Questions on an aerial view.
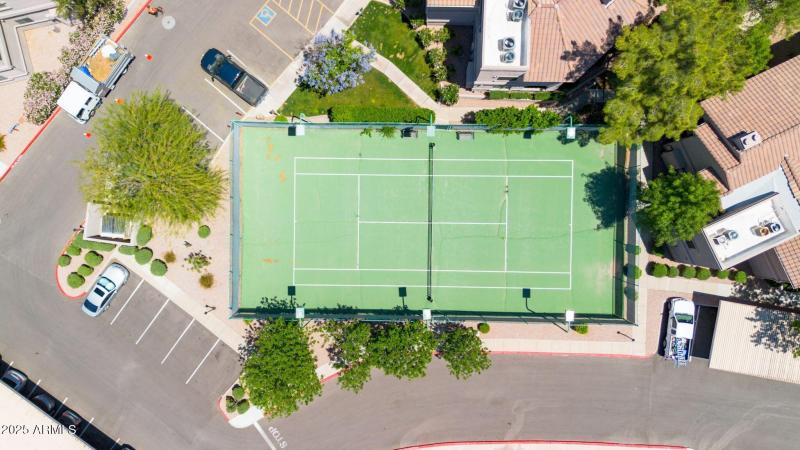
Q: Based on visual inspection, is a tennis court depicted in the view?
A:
Yes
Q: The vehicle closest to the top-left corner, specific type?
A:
truck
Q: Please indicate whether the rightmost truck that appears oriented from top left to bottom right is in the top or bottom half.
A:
top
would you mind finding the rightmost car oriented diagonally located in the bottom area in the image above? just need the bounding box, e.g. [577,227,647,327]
[84,262,131,316]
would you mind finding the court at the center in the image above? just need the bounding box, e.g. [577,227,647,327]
[241,128,624,317]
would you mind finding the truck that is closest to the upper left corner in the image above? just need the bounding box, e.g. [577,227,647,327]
[50,36,131,124]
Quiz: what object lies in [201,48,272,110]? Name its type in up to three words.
truck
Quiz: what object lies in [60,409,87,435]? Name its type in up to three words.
car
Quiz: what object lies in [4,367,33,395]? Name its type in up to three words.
car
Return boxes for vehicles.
[662,296,697,362]
[4,367,33,395]
[50,36,131,124]
[60,409,87,435]
[84,262,131,316]
[201,48,272,110]
[33,389,59,415]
